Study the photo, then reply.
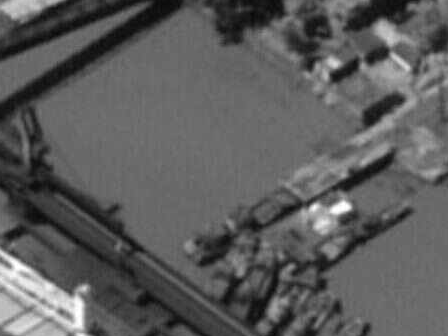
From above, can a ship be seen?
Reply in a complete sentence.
Yes, a ship can be made out from above.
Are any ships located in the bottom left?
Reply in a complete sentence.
Yes, a ship appears in the bottom left.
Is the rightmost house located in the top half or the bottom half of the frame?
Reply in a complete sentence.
You can find the rightmost house in the top half.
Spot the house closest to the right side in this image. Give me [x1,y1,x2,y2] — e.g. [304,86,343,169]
[385,38,426,69]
